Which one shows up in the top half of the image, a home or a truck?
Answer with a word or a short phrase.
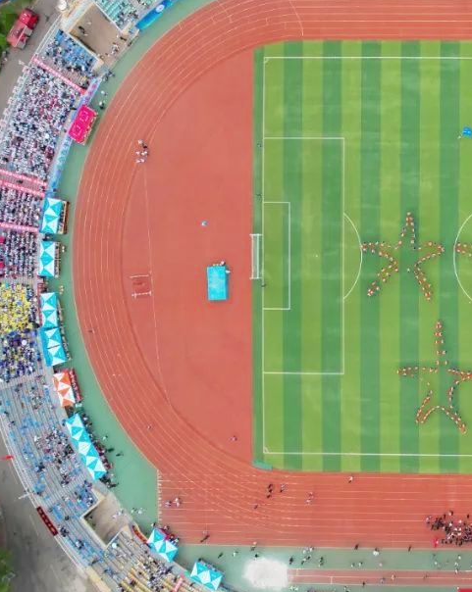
truck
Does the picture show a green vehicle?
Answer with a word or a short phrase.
No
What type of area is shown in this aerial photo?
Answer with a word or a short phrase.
sports ground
